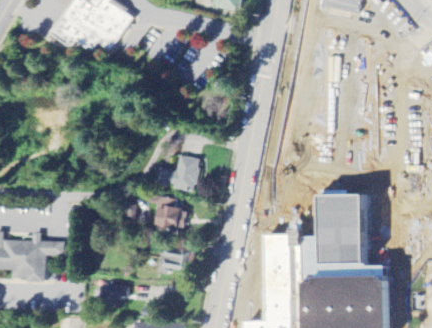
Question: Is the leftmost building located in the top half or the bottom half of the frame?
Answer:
bottom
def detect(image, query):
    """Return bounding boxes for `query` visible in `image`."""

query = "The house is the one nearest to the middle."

[168,154,201,192]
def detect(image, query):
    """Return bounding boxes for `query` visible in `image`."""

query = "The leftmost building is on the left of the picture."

[0,232,65,280]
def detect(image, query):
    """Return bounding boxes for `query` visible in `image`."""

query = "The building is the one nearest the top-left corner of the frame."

[45,0,134,48]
